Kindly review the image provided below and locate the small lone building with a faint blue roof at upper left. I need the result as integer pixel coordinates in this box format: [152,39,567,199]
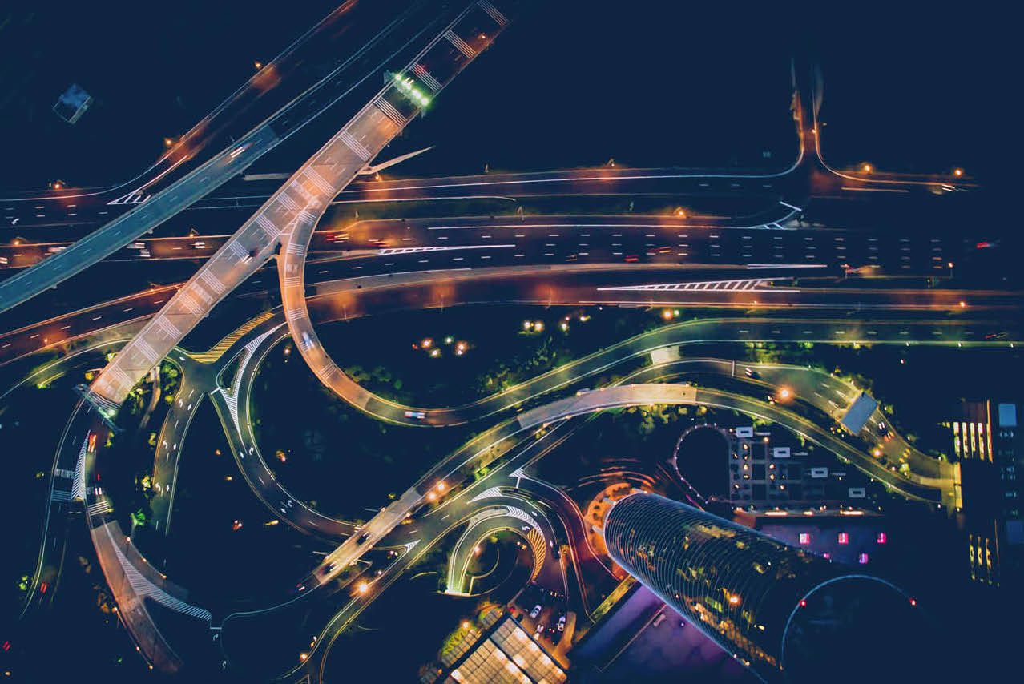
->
[53,83,95,126]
